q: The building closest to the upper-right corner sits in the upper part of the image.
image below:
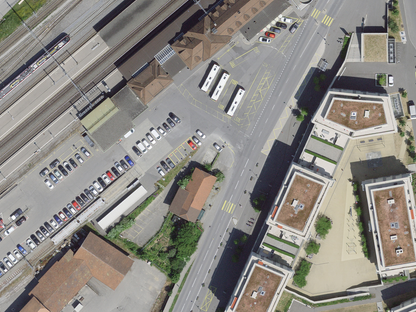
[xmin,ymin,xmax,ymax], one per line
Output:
[361,32,388,62]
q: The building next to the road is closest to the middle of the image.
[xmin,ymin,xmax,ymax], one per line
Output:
[170,168,217,222]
